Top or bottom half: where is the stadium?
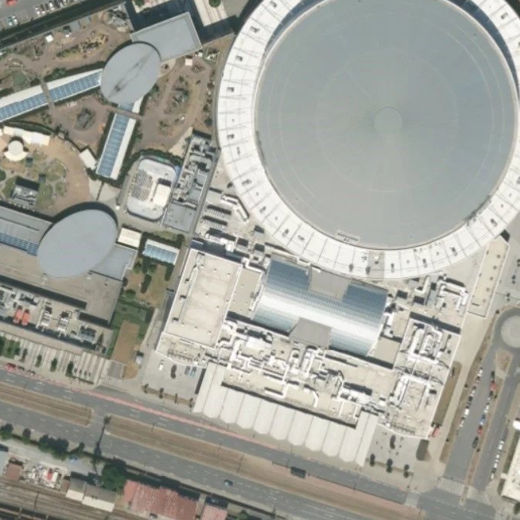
top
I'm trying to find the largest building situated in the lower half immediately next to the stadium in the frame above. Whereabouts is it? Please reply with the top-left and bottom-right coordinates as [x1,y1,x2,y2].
[155,179,510,467]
